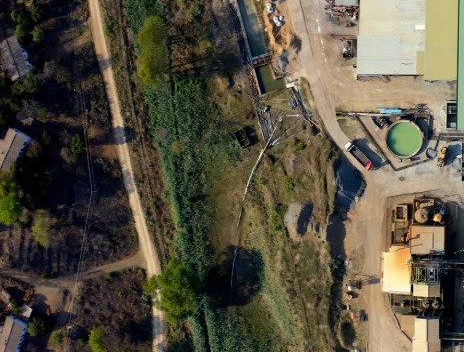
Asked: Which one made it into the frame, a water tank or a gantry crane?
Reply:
water tank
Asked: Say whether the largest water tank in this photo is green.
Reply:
Yes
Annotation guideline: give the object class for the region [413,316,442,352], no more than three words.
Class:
building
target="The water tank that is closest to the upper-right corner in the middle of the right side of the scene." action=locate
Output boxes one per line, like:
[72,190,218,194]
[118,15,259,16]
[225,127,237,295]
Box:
[383,120,427,160]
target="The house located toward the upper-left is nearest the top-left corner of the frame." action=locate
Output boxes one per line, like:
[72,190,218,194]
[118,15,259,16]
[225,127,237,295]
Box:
[0,36,36,81]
